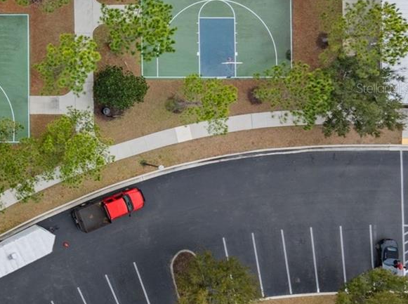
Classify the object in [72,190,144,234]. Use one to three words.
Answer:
truck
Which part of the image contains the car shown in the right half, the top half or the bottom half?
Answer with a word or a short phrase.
bottom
